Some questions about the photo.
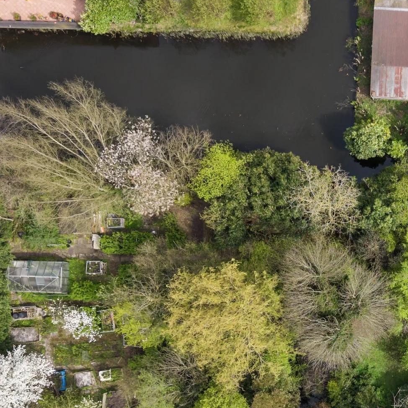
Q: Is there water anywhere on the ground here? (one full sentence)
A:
Yes, the picture does contain water.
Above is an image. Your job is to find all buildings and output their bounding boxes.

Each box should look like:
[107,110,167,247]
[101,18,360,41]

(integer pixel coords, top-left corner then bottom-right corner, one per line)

[369,0,408,104]
[0,261,67,292]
